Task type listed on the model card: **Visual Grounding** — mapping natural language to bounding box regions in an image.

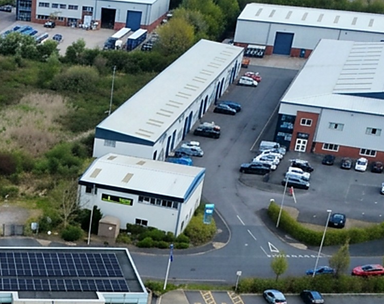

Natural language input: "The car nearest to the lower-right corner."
[349,264,384,278]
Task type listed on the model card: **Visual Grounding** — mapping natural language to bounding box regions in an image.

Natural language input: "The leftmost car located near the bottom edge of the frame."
[264,291,286,304]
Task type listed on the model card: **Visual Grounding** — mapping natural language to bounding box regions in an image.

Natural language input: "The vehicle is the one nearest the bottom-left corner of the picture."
[171,154,195,166]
